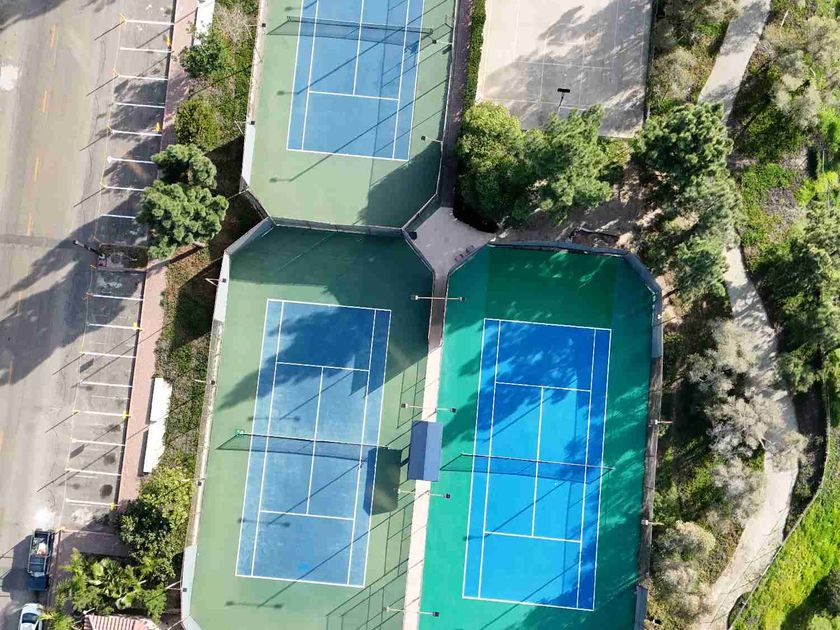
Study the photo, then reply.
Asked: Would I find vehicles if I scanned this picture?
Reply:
Yes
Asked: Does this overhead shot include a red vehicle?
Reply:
No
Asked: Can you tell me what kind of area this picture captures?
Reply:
sports ground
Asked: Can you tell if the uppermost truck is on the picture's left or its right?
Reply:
left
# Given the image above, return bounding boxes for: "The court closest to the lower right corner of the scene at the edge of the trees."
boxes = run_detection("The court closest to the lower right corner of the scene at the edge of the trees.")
[418,245,655,630]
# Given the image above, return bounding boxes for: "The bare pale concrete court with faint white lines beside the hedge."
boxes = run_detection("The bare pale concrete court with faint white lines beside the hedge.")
[476,0,652,139]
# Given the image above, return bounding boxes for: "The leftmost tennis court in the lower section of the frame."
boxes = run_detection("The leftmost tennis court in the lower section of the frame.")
[193,228,432,630]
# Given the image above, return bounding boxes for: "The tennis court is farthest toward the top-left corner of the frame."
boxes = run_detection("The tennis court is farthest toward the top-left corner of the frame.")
[250,0,455,230]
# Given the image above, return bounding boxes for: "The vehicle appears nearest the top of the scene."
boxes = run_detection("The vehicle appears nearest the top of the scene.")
[25,526,57,592]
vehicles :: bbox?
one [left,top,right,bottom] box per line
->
[18,602,46,630]
[25,526,57,592]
